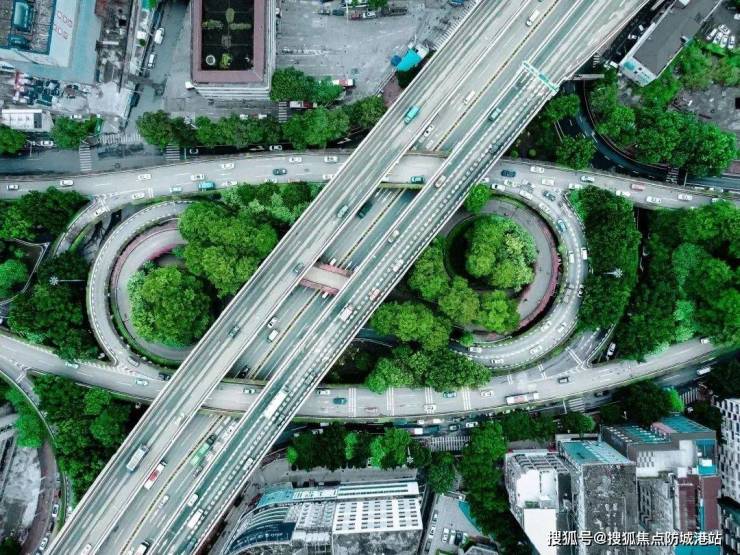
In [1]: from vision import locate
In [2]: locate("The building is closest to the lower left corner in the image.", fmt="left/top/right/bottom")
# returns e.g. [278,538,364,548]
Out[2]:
[226,507,306,555]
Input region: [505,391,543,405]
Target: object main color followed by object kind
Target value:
white vehicle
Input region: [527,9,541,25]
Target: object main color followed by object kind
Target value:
white vehicle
